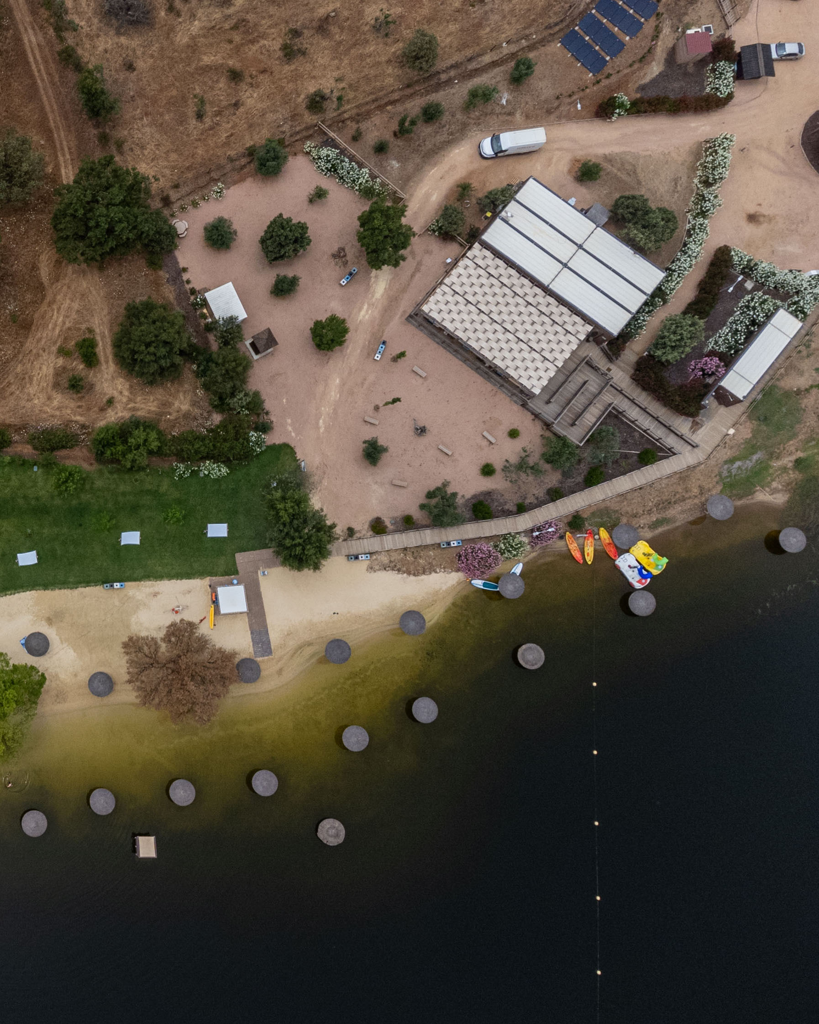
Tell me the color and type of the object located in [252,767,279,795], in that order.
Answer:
gray umbrella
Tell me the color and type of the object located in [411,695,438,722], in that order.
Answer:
gray umbrella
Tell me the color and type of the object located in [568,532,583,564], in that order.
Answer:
orange boat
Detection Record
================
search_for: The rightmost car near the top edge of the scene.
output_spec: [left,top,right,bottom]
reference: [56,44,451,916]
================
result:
[771,41,806,63]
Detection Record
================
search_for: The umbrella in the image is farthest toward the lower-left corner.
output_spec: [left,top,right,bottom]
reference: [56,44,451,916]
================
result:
[23,808,50,835]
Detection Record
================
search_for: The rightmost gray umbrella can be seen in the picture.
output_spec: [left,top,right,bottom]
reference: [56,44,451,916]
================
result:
[776,527,804,554]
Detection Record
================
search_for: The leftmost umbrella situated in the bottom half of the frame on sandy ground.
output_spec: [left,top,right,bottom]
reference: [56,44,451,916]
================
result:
[24,631,50,657]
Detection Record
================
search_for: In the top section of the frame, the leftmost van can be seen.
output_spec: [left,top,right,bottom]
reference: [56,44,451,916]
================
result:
[479,124,543,158]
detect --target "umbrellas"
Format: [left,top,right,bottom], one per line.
[399,609,425,635]
[627,589,654,616]
[252,767,279,795]
[516,642,544,669]
[89,670,115,696]
[411,695,438,722]
[325,637,351,663]
[170,776,197,804]
[236,657,262,683]
[91,786,118,813]
[342,723,369,750]
[318,816,345,844]
[498,573,524,598]
[705,493,732,520]
[612,523,637,549]
[776,527,804,554]
[23,808,50,835]
[24,631,50,657]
